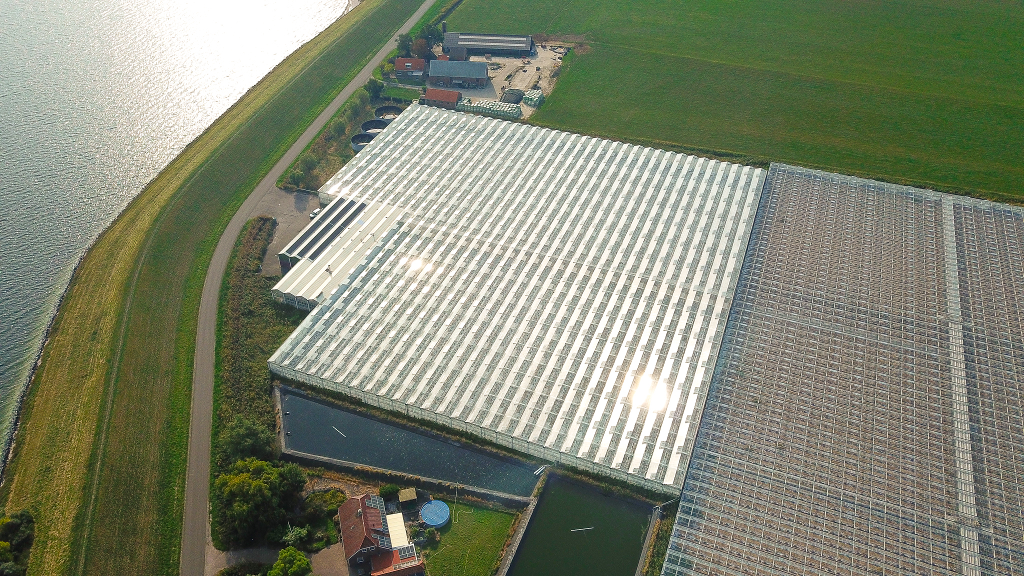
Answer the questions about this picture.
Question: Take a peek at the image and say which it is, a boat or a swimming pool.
swimming pool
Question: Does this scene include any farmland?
Yes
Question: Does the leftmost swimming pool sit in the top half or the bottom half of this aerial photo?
bottom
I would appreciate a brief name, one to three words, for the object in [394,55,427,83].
house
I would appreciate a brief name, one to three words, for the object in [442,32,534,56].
barn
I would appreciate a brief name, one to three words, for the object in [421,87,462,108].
shed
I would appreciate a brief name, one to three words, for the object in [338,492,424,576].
house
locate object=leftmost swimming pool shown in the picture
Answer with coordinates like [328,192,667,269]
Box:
[419,500,450,532]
